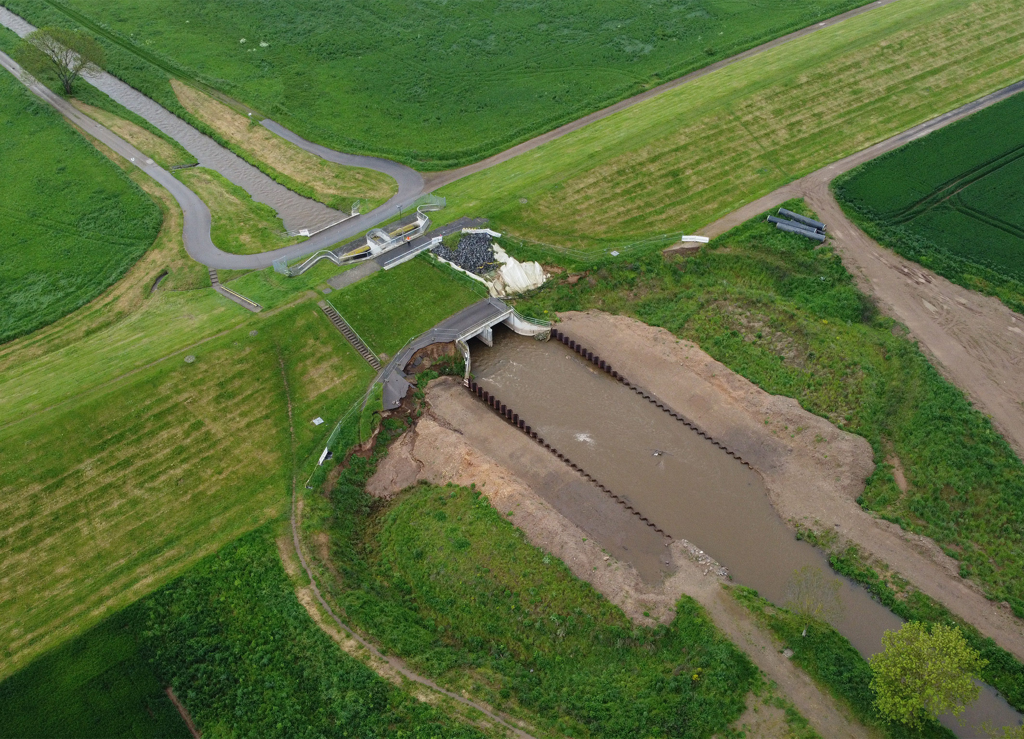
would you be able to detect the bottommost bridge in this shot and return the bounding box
[446,295,551,389]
